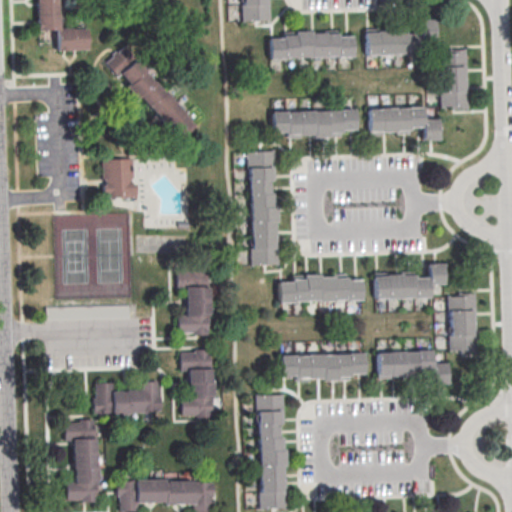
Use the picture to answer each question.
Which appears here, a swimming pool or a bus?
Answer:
swimming pool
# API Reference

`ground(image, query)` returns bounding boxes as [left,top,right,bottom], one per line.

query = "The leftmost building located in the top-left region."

[38,0,93,51]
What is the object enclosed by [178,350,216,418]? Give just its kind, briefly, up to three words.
house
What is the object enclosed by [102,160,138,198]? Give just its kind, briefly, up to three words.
house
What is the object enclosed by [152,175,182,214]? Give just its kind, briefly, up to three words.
swimming pool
